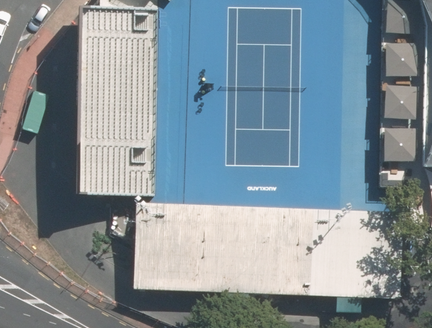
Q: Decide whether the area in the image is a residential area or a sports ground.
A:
sports ground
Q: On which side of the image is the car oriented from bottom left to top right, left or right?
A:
left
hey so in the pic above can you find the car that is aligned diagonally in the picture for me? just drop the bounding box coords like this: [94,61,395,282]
[28,3,51,33]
